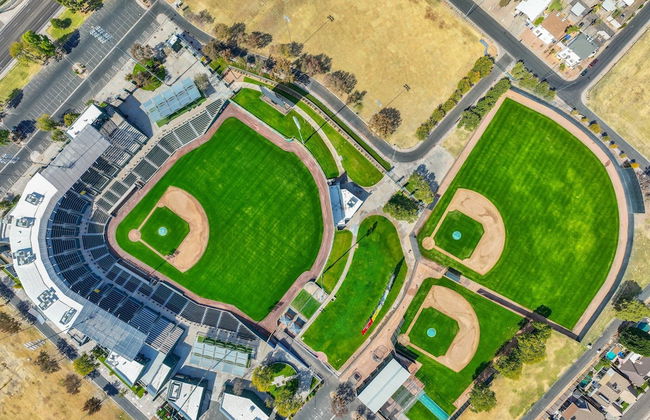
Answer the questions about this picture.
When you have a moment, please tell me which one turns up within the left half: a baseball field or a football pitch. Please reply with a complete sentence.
The one visible within the left half is a baseball field.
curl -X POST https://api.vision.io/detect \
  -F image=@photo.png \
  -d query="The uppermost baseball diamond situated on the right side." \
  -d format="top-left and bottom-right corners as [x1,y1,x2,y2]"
[411,91,628,341]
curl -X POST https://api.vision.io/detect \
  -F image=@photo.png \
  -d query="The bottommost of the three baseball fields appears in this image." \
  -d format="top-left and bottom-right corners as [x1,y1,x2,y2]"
[396,277,523,420]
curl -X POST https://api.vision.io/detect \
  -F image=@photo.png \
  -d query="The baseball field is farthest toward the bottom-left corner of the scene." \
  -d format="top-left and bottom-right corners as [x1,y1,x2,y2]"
[107,101,334,338]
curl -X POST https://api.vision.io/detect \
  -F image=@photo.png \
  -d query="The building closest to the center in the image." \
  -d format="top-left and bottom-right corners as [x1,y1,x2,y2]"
[330,183,363,226]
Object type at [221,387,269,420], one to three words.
building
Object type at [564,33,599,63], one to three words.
house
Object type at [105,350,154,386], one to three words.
building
